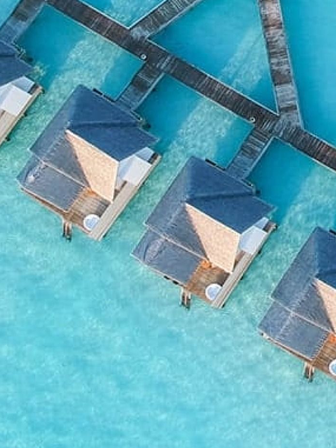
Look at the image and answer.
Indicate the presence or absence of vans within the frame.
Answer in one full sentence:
No, no van is visible in the view.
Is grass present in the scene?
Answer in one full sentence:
No, grass can't be seen anywhere here.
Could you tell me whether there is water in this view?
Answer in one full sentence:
Yes, water shows up in the scene.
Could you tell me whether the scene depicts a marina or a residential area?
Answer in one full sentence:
What you see here is a residential area.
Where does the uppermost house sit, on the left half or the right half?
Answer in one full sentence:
It is on the left.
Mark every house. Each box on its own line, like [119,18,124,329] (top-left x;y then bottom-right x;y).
[129,154,284,310]
[0,37,64,159]
[249,222,336,384]
[15,90,172,239]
